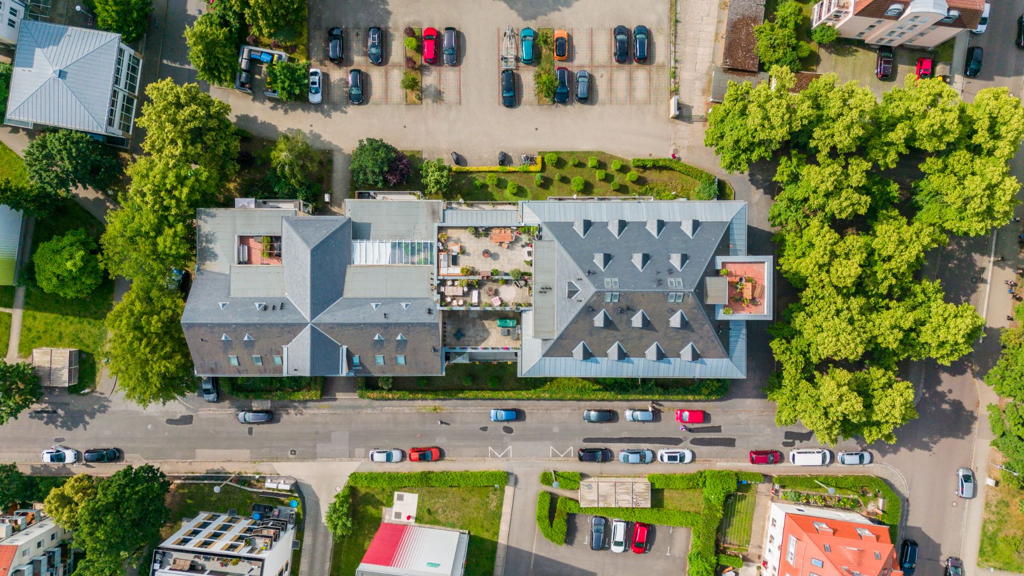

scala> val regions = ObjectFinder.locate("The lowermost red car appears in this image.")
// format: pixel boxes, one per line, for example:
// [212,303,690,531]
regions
[632,523,650,553]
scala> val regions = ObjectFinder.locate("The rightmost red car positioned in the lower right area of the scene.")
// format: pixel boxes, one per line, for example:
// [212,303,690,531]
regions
[748,449,780,466]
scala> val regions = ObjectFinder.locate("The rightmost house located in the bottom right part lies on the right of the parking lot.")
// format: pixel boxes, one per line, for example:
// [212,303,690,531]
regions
[764,504,891,576]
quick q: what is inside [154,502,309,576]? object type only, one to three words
building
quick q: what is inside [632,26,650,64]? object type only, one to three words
car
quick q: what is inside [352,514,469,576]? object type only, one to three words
building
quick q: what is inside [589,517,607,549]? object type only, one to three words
car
